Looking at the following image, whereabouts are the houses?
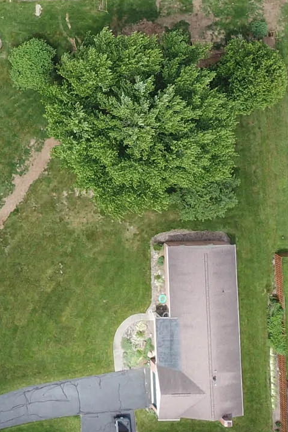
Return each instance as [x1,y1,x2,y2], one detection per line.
[151,242,245,423]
